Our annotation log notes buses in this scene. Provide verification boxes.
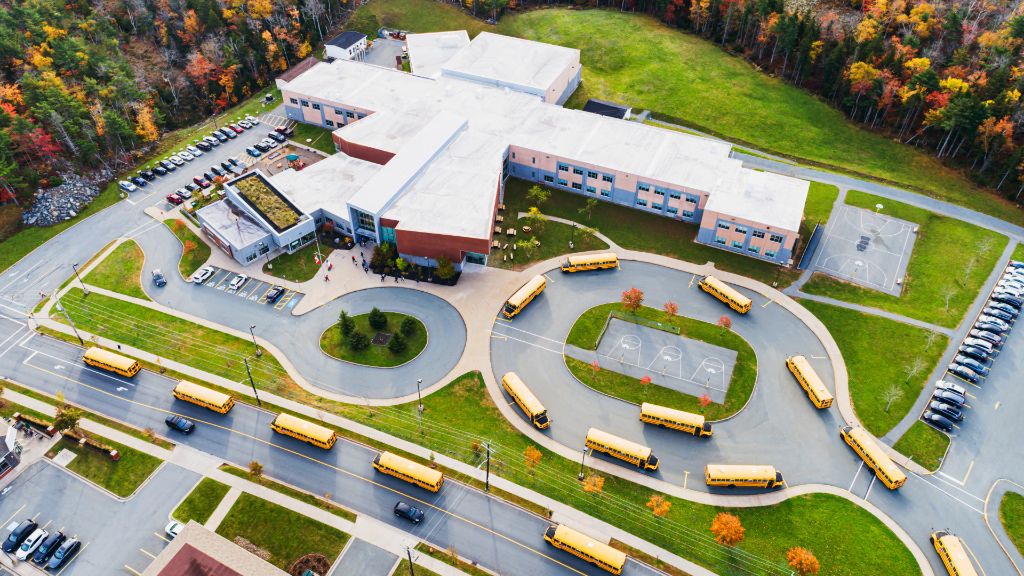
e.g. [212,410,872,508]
[584,429,662,475]
[838,424,905,493]
[168,381,236,417]
[703,467,788,490]
[78,348,143,381]
[785,354,833,412]
[926,522,976,576]
[267,413,338,453]
[559,254,618,276]
[502,374,552,434]
[695,278,752,319]
[541,523,627,576]
[638,405,716,440]
[502,276,547,320]
[368,452,445,495]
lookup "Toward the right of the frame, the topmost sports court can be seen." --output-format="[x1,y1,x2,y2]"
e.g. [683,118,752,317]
[807,204,920,296]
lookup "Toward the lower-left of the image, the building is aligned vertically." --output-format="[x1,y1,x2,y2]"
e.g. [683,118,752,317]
[0,421,28,487]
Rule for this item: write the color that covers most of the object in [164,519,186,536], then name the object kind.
white car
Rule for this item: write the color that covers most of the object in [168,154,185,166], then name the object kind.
white vehicle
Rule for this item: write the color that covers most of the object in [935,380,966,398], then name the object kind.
white car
